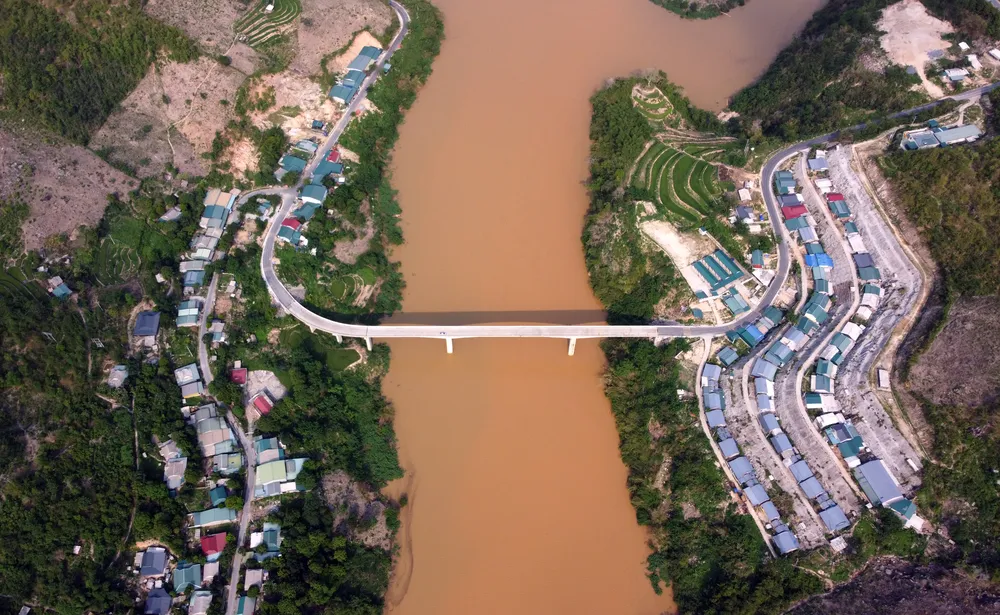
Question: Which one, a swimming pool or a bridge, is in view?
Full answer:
I can see a bridge in this picture.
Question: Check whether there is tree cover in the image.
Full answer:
Yes, there's tree cover in this view.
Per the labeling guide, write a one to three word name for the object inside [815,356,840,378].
house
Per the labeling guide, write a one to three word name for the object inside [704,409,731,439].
house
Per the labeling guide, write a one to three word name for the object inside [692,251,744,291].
building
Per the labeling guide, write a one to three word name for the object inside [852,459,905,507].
building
